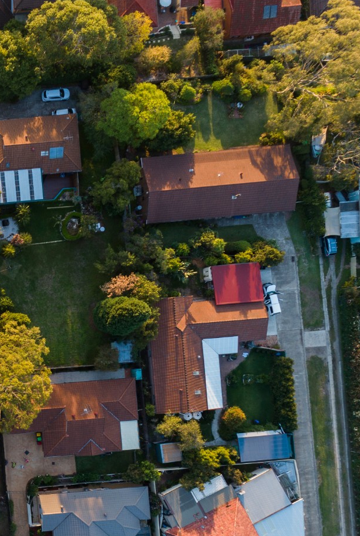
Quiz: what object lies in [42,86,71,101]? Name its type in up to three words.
car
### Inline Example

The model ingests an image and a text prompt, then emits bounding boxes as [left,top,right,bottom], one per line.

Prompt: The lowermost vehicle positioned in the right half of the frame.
[264,282,287,316]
